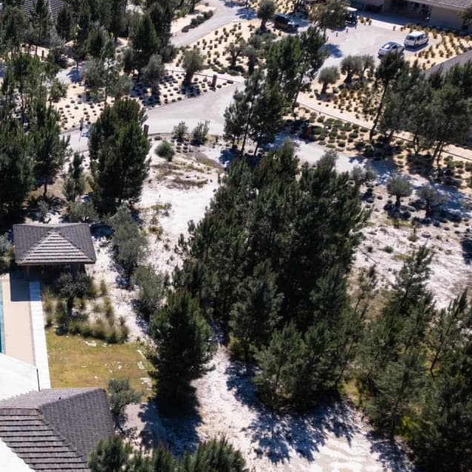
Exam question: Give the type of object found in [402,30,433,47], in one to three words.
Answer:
vehicle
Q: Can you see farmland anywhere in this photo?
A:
No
